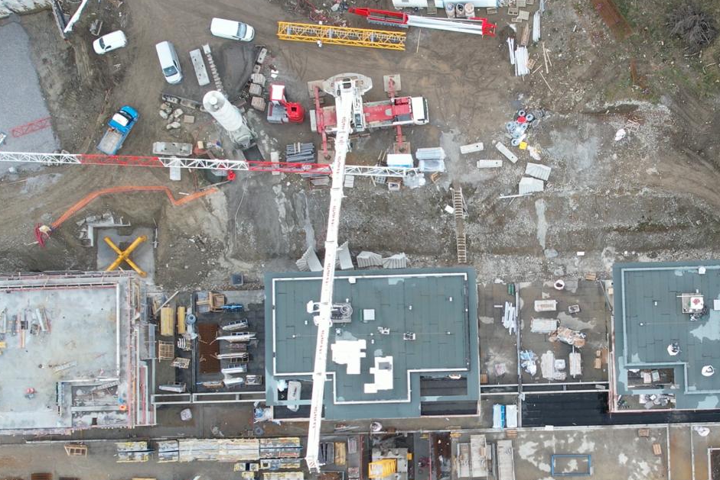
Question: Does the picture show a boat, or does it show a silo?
silo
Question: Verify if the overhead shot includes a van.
Yes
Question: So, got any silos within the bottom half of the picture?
No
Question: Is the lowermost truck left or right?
left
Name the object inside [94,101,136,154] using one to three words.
truck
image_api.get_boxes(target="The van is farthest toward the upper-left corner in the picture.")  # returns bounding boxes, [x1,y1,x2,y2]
[90,23,127,54]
